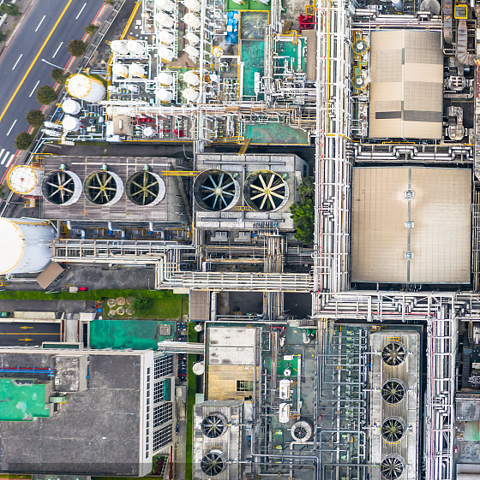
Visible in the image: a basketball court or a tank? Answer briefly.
tank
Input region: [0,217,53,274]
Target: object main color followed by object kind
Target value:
white storage tank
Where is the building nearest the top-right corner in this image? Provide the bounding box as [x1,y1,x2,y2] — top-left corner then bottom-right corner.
[370,28,445,142]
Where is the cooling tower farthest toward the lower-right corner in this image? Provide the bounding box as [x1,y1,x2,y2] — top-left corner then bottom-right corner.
[364,328,423,480]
